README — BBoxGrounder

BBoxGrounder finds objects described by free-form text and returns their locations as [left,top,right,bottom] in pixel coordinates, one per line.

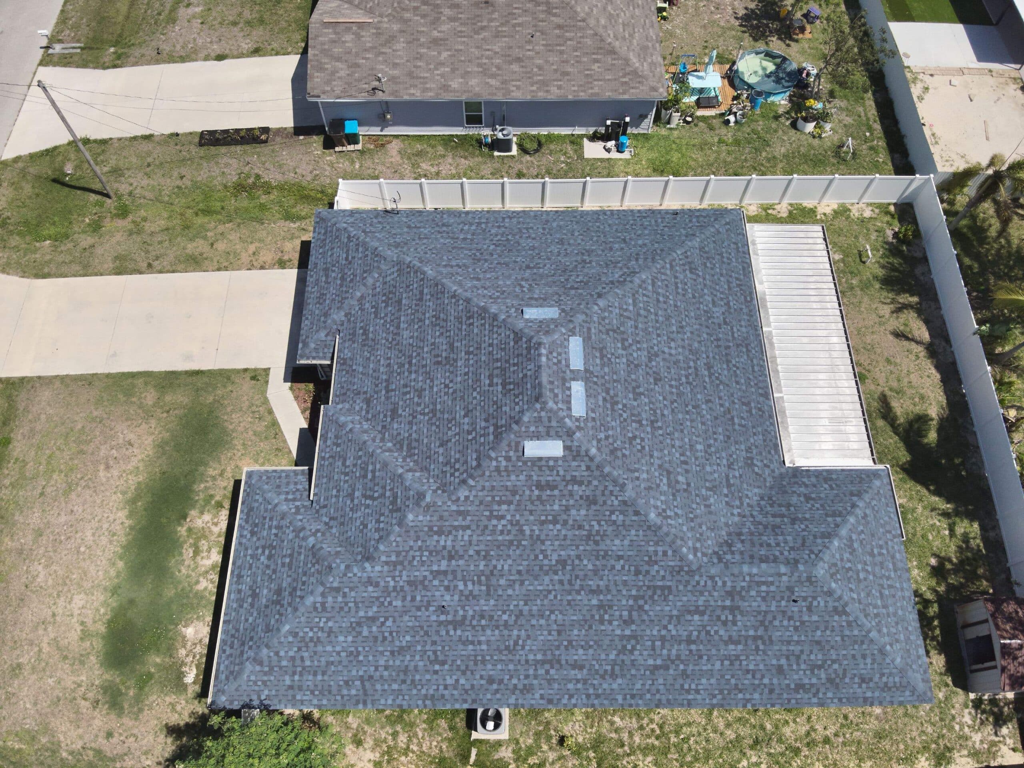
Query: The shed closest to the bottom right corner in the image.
[951,591,1024,699]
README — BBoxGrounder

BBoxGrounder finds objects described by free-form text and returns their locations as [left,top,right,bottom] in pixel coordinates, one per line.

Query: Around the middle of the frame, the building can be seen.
[203,193,941,709]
